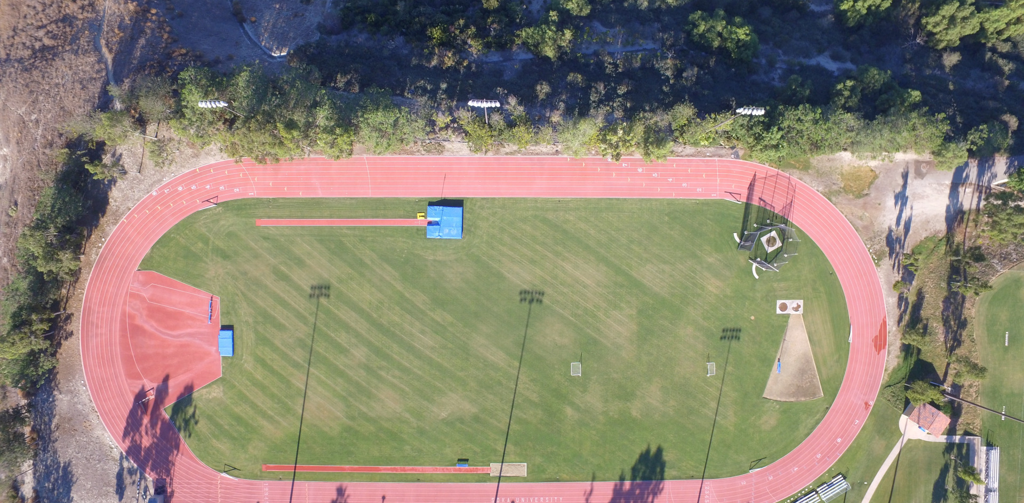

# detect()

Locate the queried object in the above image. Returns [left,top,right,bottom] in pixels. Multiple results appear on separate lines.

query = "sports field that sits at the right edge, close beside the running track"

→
[976,269,1024,503]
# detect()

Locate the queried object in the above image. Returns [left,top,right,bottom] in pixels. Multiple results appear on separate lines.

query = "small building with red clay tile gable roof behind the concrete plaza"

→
[908,402,951,438]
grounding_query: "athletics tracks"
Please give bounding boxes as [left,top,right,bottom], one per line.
[80,156,888,503]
